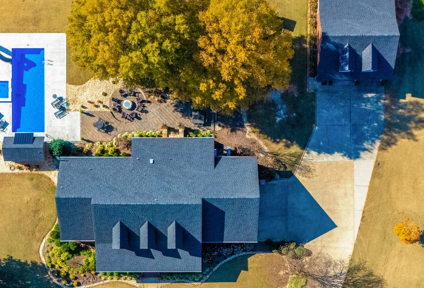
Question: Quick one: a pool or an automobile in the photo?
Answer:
pool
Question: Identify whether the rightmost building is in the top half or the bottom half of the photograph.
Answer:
top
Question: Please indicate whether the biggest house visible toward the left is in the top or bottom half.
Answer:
bottom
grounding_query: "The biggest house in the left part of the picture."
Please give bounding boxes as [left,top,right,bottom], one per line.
[55,136,260,277]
